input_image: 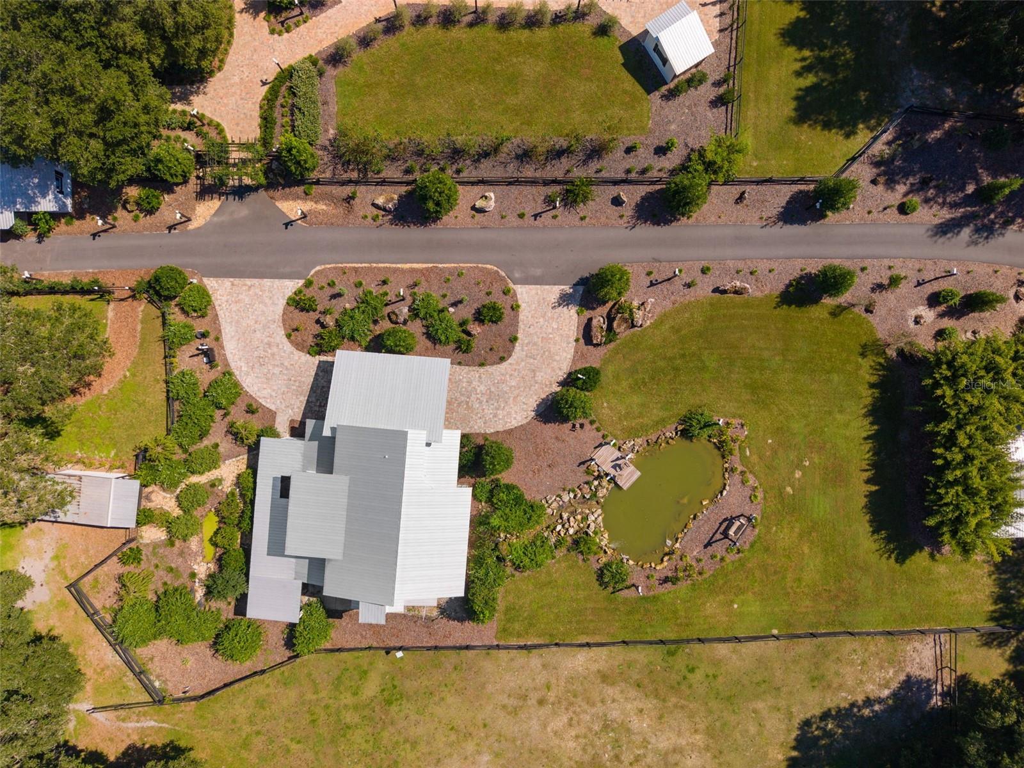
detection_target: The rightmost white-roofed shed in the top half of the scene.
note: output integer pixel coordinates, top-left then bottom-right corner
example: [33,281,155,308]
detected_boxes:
[644,0,715,82]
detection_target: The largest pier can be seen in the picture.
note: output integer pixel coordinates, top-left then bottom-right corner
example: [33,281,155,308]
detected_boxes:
[591,445,641,490]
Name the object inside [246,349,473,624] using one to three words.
house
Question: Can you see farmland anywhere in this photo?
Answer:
Yes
